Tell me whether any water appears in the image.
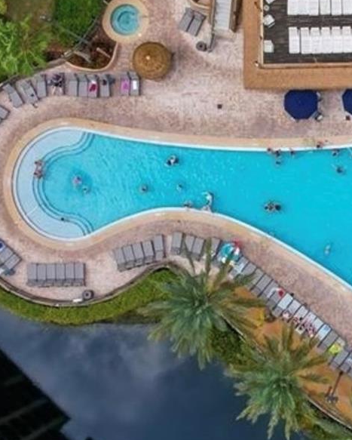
Yes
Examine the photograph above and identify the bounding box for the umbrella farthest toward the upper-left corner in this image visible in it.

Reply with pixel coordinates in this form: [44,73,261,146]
[133,40,177,84]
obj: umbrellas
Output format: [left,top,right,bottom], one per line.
[133,40,177,84]
[284,88,319,122]
[341,88,352,116]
